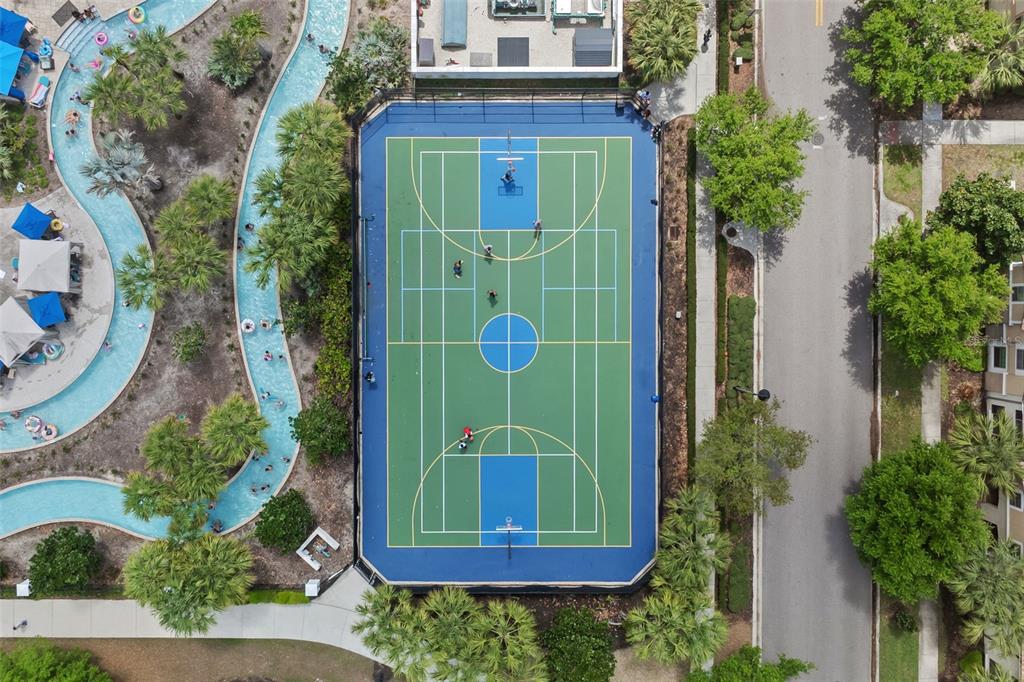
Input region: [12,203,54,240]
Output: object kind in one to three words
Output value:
umbrella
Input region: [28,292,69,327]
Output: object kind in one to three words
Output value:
umbrella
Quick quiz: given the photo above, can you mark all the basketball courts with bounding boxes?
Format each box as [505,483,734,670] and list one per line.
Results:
[360,100,658,583]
